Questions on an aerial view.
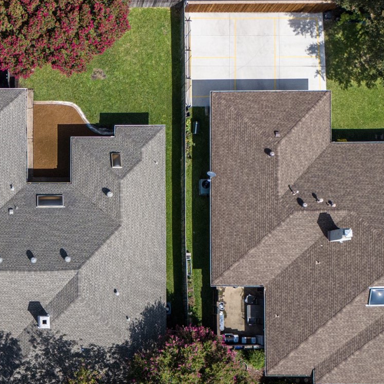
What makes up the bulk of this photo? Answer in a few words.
buildings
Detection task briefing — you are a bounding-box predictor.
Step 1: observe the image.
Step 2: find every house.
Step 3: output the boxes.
[207,90,384,384]
[0,87,169,384]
